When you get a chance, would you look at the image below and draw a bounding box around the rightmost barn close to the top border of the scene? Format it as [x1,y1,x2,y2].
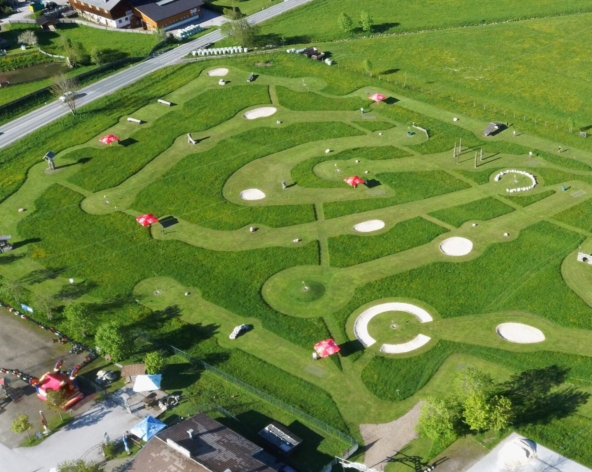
[118,0,198,32]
